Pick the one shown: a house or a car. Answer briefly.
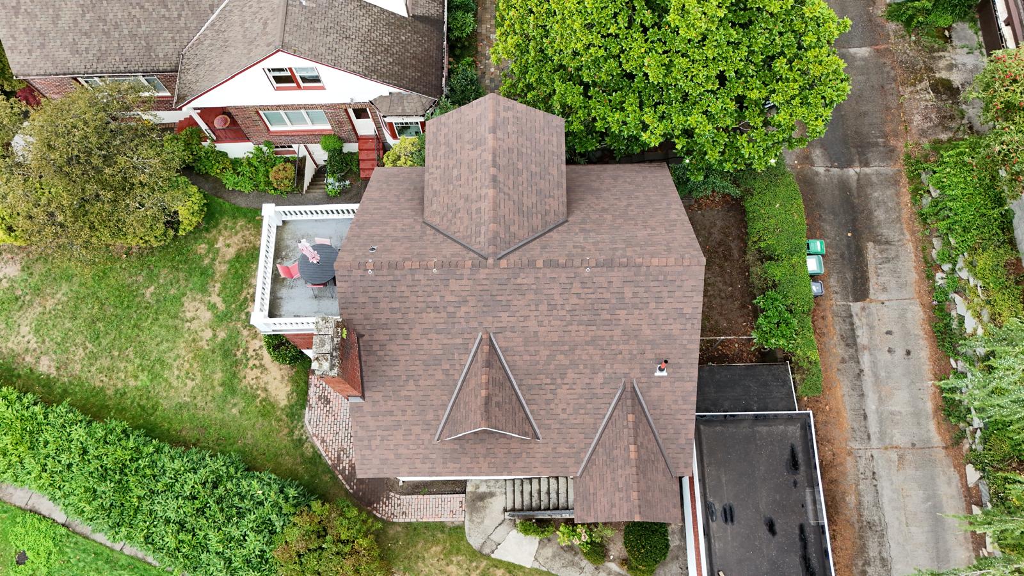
house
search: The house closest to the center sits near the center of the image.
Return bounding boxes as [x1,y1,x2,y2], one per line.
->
[304,92,706,523]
